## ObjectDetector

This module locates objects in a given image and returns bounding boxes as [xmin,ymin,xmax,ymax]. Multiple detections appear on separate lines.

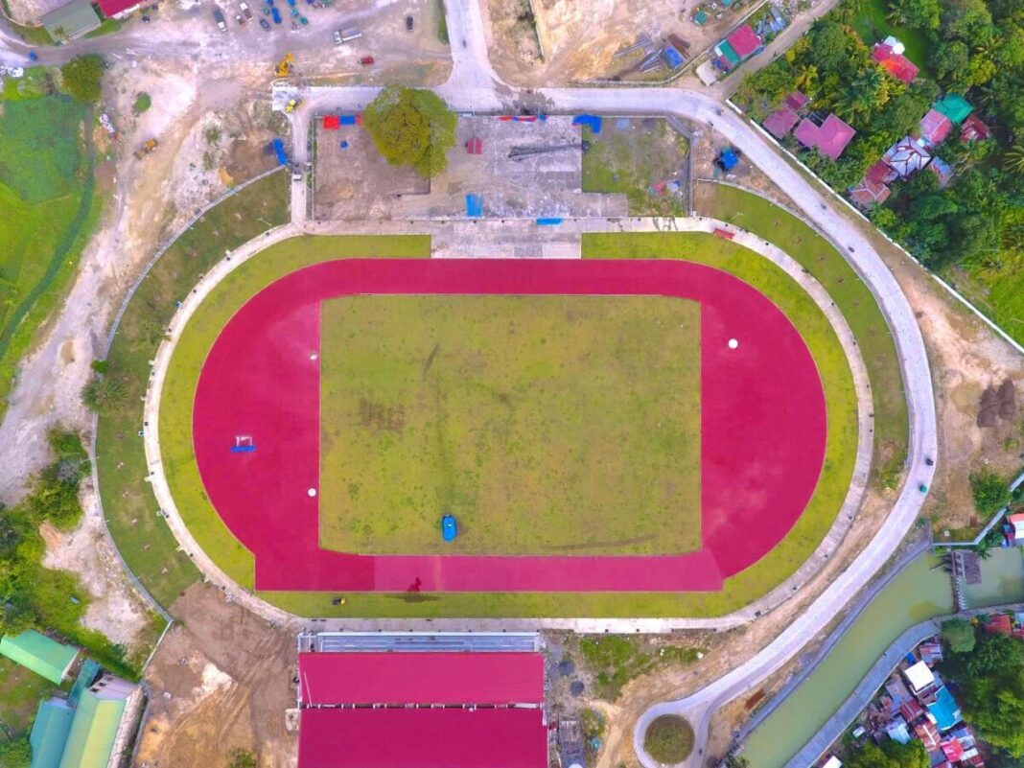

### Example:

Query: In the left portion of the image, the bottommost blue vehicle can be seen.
[273,140,285,162]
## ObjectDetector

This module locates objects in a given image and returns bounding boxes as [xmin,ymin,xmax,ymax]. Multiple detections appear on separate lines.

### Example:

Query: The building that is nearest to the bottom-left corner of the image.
[23,690,82,768]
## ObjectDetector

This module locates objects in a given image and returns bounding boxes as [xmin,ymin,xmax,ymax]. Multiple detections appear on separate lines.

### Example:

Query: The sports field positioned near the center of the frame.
[319,294,702,556]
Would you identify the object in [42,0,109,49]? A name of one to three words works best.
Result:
building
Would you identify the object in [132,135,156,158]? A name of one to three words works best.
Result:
work vehicle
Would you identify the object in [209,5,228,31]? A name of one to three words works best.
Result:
vehicle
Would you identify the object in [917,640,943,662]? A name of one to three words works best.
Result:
shed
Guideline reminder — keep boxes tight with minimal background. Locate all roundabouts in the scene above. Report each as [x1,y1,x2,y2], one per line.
[643,712,697,767]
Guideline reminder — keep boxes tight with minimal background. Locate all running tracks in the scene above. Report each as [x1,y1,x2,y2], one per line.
[192,257,827,592]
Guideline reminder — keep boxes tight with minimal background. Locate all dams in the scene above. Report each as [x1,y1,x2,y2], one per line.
[947,549,986,611]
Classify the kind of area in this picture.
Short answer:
sports ground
